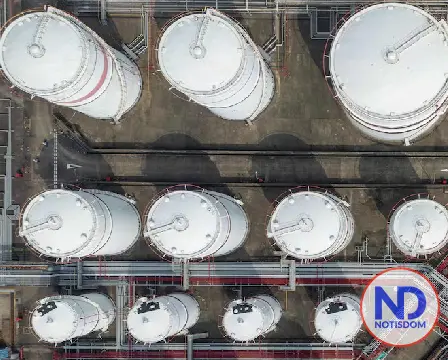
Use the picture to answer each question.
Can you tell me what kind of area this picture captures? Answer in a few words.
industrial area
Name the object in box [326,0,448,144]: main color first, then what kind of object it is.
white storage tank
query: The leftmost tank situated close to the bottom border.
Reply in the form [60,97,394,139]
[29,290,114,347]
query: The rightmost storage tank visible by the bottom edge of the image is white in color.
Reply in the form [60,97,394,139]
[312,290,368,348]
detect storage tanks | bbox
[124,290,199,347]
[218,291,282,347]
[326,0,448,144]
[0,6,147,122]
[312,290,368,348]
[385,195,448,260]
[29,290,114,347]
[267,187,354,263]
[143,187,247,262]
[155,8,277,123]
[16,185,140,262]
